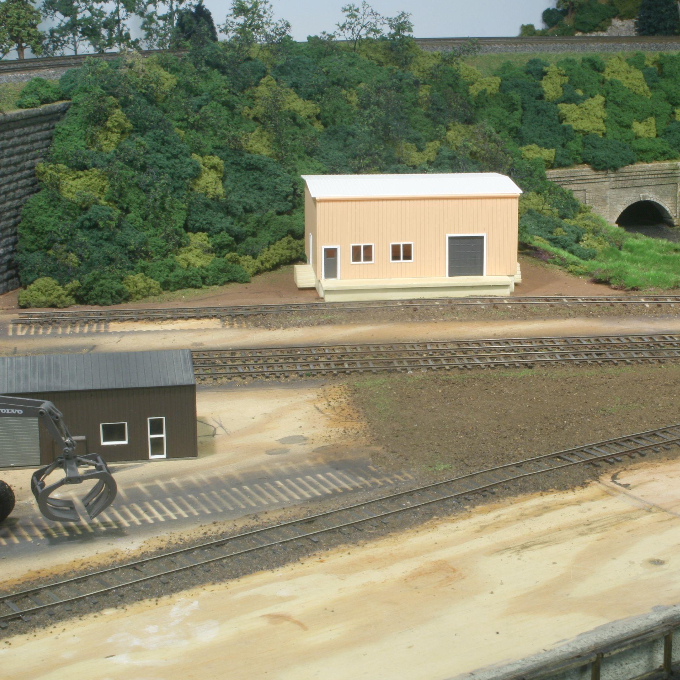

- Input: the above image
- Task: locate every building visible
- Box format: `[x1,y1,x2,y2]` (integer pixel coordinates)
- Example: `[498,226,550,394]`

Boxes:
[0,344,199,471]
[296,172,523,302]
